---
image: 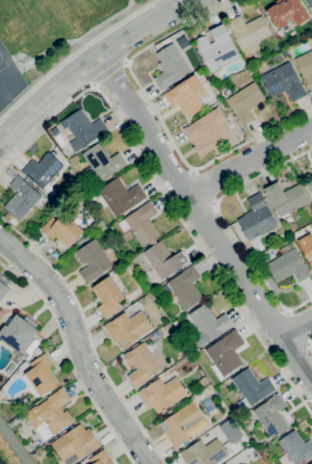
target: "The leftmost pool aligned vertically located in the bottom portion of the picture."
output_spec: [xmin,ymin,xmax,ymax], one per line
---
[0,346,12,370]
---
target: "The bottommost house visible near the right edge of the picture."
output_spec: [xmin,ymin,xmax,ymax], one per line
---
[280,430,312,464]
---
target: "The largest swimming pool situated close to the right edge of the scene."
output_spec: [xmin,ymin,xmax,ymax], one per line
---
[294,42,311,56]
